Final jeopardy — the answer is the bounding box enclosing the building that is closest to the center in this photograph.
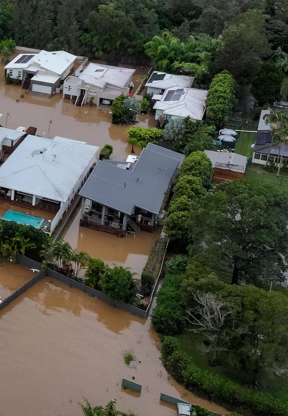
[77,143,187,246]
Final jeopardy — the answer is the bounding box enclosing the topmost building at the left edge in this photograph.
[4,49,77,97]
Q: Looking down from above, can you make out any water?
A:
Yes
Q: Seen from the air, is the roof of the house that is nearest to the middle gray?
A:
Yes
